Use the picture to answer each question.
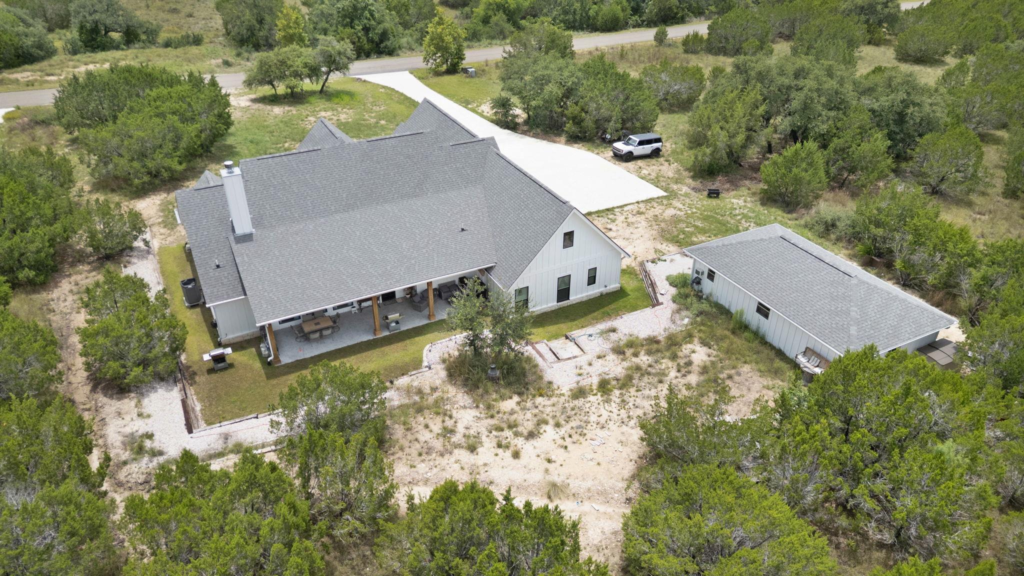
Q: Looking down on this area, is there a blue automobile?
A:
No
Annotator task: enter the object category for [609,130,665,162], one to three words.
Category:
car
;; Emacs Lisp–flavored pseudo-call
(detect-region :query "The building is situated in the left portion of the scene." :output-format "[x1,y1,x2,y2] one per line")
[174,98,632,377]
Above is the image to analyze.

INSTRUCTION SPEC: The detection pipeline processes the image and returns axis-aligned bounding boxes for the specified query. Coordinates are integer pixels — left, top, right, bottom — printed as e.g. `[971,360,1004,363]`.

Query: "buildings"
[174,98,632,377]
[683,223,958,376]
